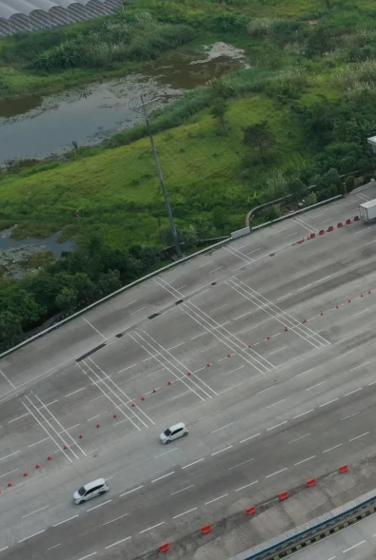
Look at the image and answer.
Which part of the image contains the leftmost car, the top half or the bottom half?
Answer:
bottom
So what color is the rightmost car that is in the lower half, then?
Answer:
white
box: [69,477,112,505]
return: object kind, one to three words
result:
car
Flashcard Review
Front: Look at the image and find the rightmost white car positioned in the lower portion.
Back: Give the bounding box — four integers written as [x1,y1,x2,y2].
[158,421,190,443]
